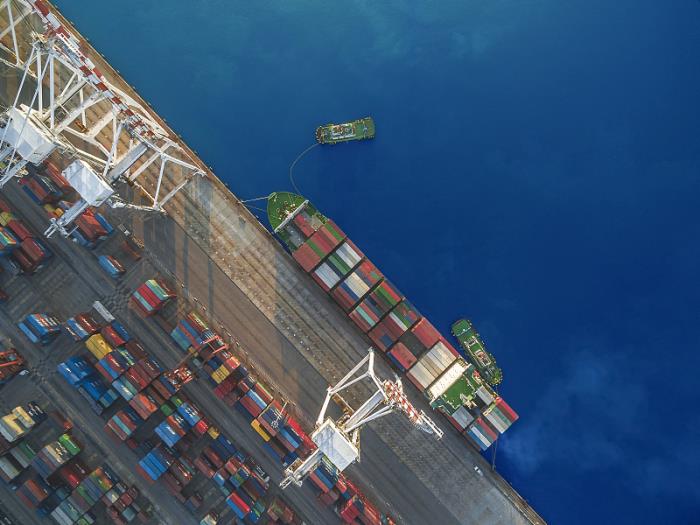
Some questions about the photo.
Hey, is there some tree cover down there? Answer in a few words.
No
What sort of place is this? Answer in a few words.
port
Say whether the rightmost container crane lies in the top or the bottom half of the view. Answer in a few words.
bottom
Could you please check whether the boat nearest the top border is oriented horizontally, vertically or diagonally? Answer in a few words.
horizontally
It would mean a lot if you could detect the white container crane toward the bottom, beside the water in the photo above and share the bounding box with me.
[277,344,440,494]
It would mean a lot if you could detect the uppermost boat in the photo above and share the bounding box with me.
[318,118,376,141]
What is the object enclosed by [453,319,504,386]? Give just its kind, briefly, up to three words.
boat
